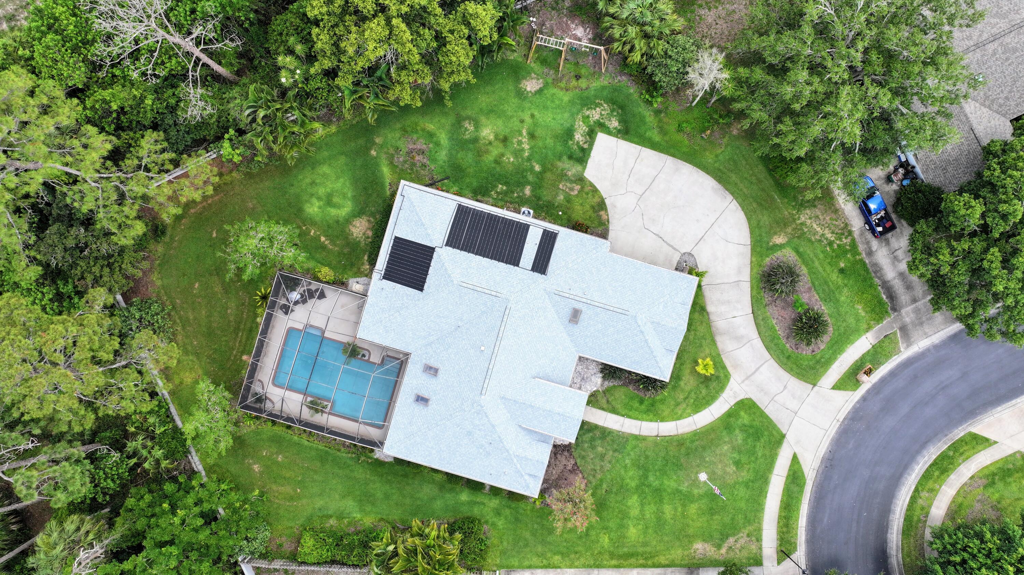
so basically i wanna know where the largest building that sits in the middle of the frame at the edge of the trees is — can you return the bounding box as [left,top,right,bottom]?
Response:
[354,178,701,499]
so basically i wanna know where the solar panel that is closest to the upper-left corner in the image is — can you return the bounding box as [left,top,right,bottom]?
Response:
[379,235,434,292]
